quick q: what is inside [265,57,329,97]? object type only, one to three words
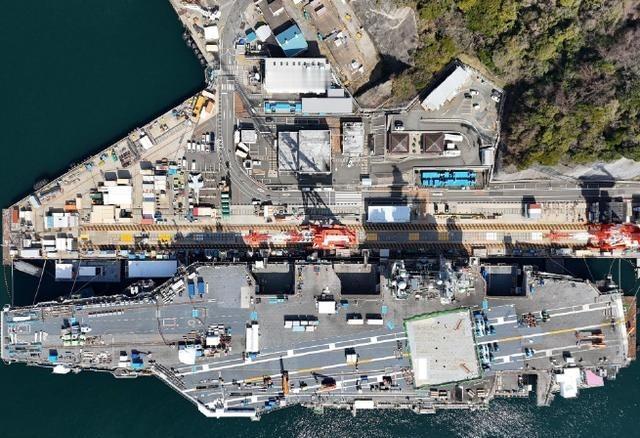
building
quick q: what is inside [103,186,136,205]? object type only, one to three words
shed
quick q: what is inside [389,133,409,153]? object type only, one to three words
building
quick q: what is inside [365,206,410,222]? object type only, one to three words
shed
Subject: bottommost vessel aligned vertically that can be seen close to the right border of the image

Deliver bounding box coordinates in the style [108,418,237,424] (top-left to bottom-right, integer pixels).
[623,296,637,360]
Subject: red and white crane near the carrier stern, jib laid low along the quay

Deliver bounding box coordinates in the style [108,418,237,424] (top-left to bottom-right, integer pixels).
[528,227,640,250]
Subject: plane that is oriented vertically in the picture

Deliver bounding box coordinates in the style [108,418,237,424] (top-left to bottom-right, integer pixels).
[188,172,203,206]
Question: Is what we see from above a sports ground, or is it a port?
port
